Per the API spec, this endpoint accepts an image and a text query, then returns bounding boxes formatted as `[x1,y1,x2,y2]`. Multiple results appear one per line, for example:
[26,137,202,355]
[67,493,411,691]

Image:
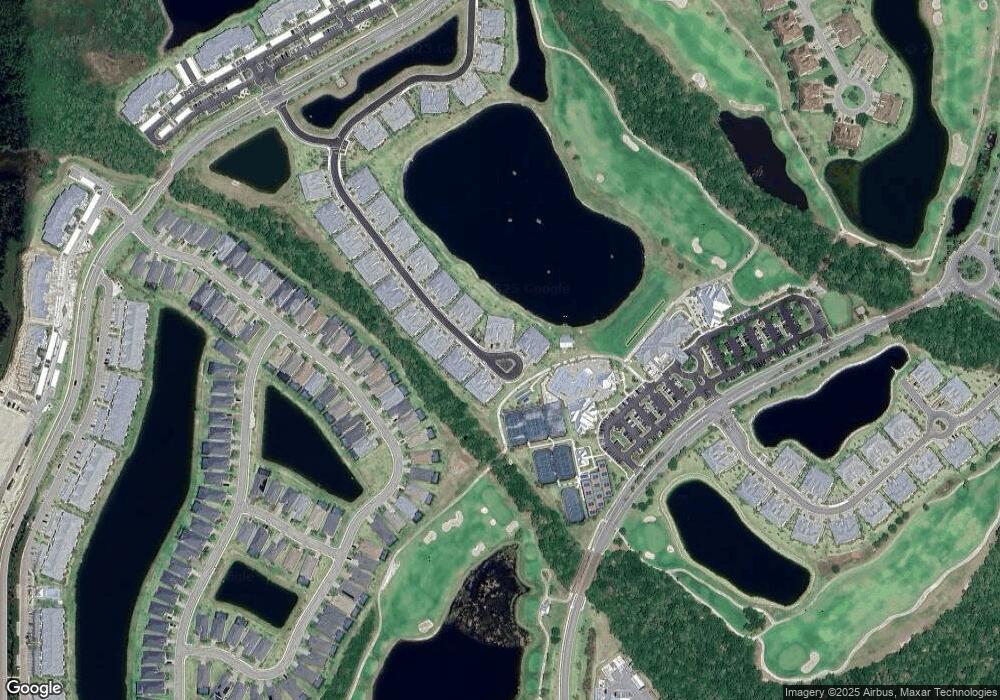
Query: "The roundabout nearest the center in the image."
[483,351,522,380]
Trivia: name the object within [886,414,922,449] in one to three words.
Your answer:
house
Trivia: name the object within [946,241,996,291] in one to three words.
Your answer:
roundabout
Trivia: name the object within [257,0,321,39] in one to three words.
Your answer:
building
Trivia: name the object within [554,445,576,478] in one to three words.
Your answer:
tennis court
